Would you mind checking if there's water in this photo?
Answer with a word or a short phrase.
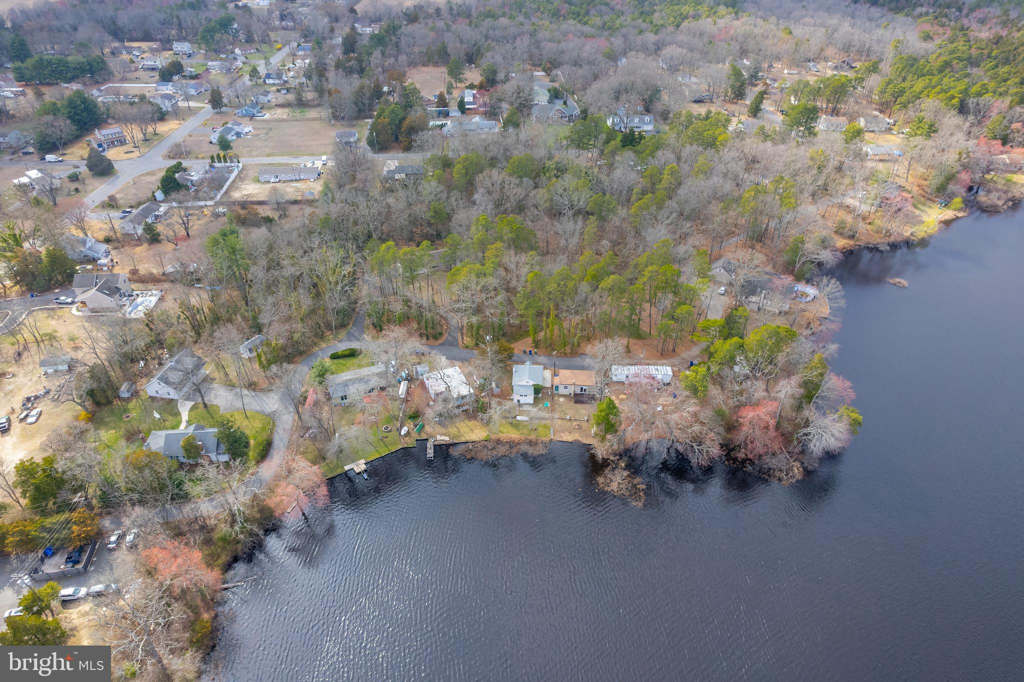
Yes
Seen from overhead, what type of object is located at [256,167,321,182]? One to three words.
house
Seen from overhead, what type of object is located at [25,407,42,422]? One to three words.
car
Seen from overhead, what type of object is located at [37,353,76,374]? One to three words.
shed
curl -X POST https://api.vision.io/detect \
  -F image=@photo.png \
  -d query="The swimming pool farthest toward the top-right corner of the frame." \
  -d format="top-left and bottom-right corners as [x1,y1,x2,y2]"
[799,285,826,302]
